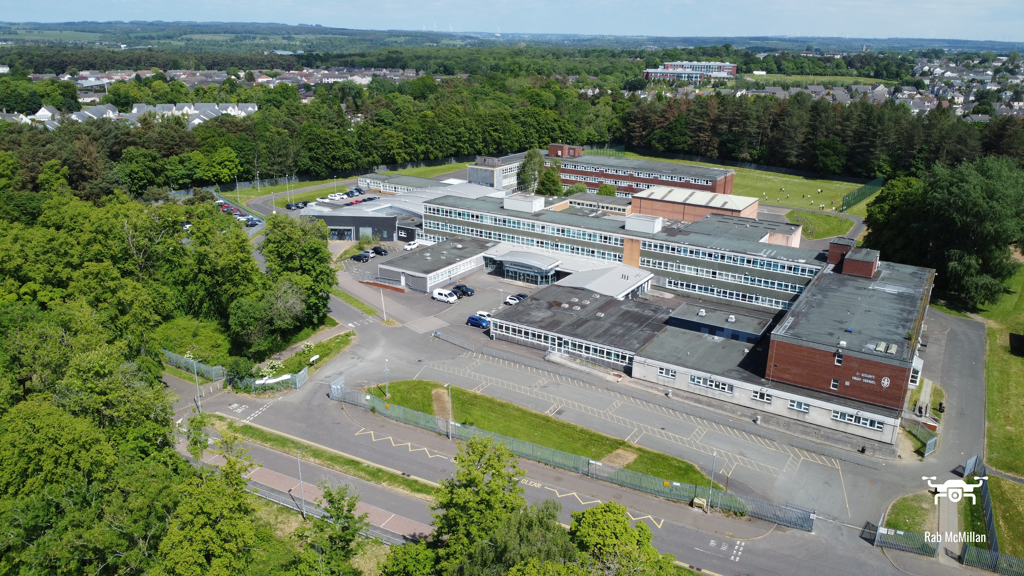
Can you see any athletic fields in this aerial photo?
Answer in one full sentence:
Yes, there is an athletic field in the image.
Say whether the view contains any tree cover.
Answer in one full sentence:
Yes, tree cover shows up in the scene.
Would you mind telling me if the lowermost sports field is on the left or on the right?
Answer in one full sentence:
The lowermost sports field appears in the right half of the scene.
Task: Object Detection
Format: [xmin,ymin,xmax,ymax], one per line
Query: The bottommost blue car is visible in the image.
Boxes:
[467,313,490,327]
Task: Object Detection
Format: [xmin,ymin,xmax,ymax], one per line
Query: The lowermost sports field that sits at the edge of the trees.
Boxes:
[587,147,921,238]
